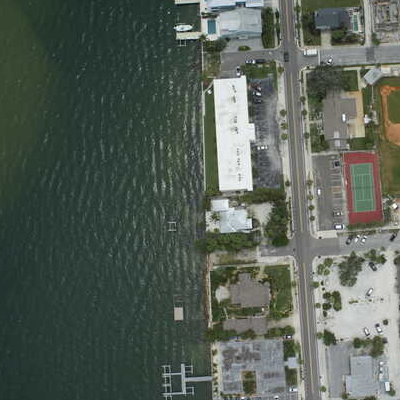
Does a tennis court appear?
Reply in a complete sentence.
Yes, a tennis court appears in the view.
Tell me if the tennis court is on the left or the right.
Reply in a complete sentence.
You can find the tennis court on the right side of the picture.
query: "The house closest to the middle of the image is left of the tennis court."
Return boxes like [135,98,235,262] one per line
[211,199,253,233]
